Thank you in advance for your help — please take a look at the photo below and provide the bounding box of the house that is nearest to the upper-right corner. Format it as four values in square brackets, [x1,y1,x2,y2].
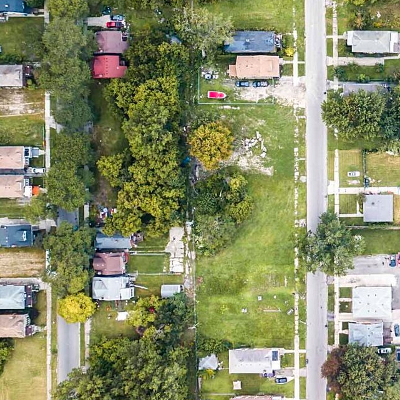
[347,30,398,53]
